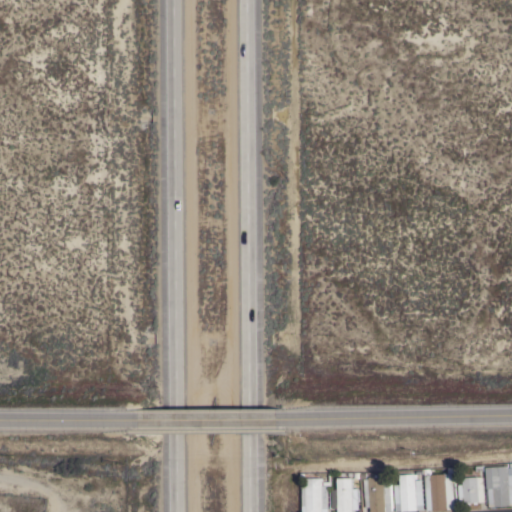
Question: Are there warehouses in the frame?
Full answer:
No, there is no warehouse in the image.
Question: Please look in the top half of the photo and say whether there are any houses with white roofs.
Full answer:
No, no house with a white roof can be made out in the top half of the photo.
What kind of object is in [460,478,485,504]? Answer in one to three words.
house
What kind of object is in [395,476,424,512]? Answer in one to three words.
house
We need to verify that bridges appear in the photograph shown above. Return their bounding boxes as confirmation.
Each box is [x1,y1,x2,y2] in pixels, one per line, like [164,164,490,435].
[128,408,287,434]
